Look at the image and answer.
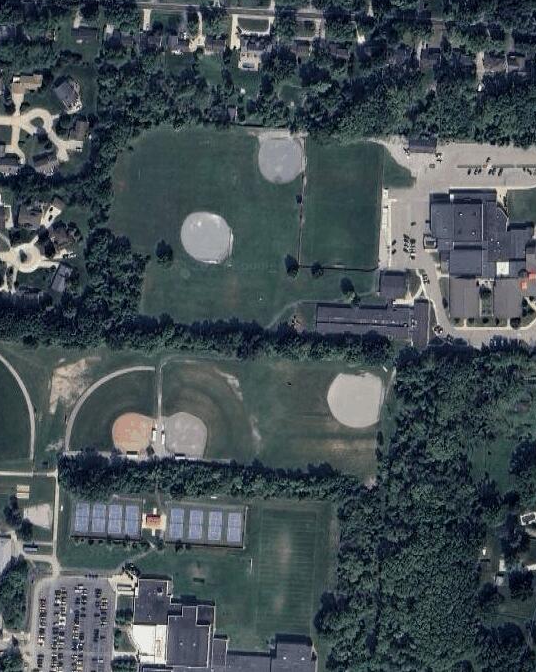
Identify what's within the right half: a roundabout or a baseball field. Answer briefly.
baseball field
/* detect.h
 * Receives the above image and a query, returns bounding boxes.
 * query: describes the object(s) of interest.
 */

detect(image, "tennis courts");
[208,511,222,540]
[75,503,89,532]
[92,503,105,532]
[171,509,185,538]
[189,510,203,539]
[227,513,241,542]
[108,504,122,533]
[125,505,139,534]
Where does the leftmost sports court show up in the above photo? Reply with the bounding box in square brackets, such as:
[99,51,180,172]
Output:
[24,503,52,527]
